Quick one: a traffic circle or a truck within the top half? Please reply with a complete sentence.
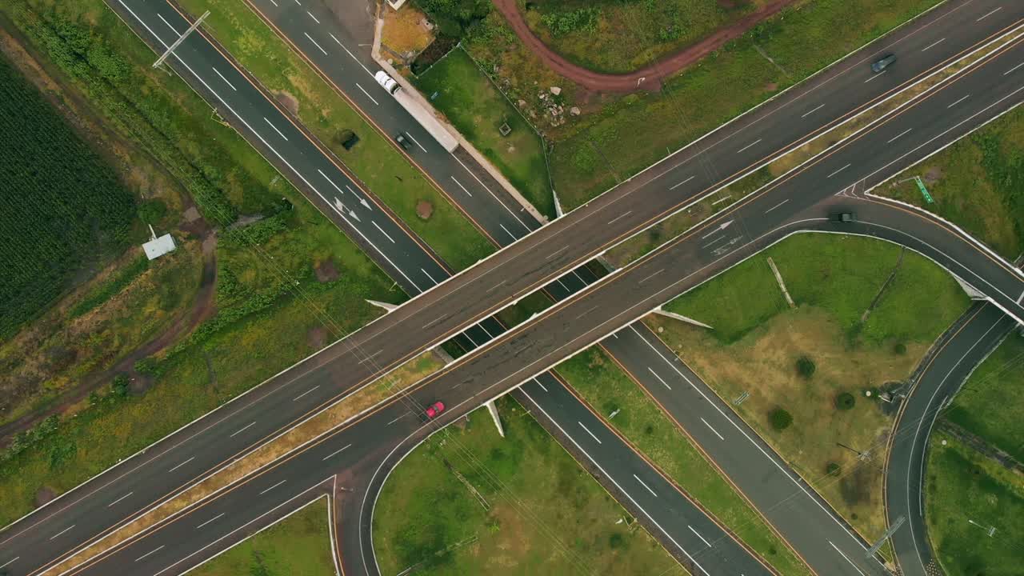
The one visible within the top half is a truck.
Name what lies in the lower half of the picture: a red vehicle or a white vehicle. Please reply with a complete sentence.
It is a red vehicle that can be seen in the lower half of the picture.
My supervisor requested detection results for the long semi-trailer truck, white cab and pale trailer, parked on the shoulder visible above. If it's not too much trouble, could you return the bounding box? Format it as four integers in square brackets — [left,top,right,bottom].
[375,72,460,156]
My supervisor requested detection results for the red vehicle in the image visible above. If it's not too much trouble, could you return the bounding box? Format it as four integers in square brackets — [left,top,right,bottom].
[424,401,447,419]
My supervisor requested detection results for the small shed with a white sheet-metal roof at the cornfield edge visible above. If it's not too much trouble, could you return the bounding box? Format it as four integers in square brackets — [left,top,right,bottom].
[143,234,180,259]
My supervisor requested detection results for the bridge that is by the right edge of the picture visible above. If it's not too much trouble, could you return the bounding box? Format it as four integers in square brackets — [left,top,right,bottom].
[957,239,1024,328]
